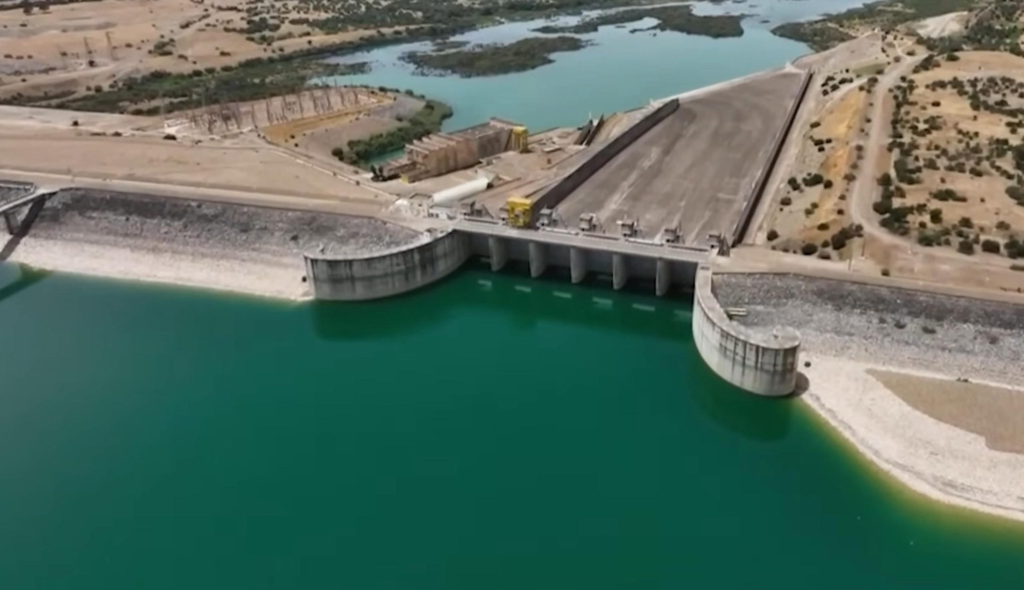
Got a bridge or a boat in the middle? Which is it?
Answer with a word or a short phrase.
bridge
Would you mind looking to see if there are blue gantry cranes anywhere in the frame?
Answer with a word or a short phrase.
No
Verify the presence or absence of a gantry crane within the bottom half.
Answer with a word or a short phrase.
No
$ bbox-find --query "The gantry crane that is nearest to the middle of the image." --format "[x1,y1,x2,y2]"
[504,196,535,234]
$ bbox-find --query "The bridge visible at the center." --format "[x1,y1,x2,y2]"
[457,215,703,297]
